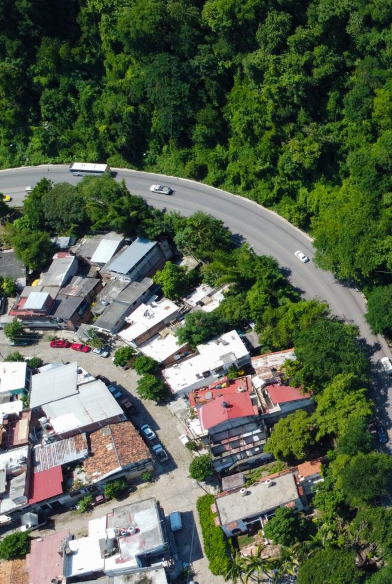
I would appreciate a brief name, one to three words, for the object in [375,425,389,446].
vehicle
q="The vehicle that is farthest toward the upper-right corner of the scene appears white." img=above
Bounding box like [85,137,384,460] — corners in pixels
[293,251,311,265]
